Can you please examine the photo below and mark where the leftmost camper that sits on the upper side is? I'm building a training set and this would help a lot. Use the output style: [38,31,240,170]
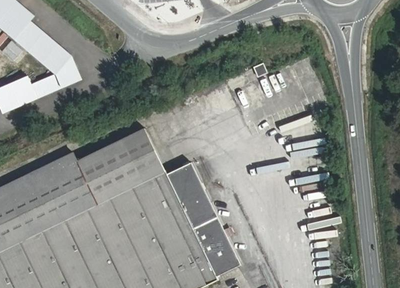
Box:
[237,90,250,108]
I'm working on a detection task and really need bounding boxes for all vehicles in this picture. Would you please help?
[258,121,270,129]
[294,183,320,194]
[309,230,339,240]
[250,162,290,176]
[267,128,278,136]
[270,74,282,92]
[314,268,332,276]
[285,138,328,152]
[277,72,286,88]
[237,90,250,108]
[235,244,247,249]
[214,201,228,208]
[292,170,302,176]
[307,207,333,218]
[289,172,330,186]
[308,166,319,172]
[303,192,327,202]
[350,124,356,137]
[310,241,330,249]
[310,202,322,208]
[278,135,294,145]
[226,278,238,286]
[300,216,343,233]
[315,278,334,286]
[260,78,273,98]
[312,250,330,258]
[313,260,332,267]
[218,210,230,216]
